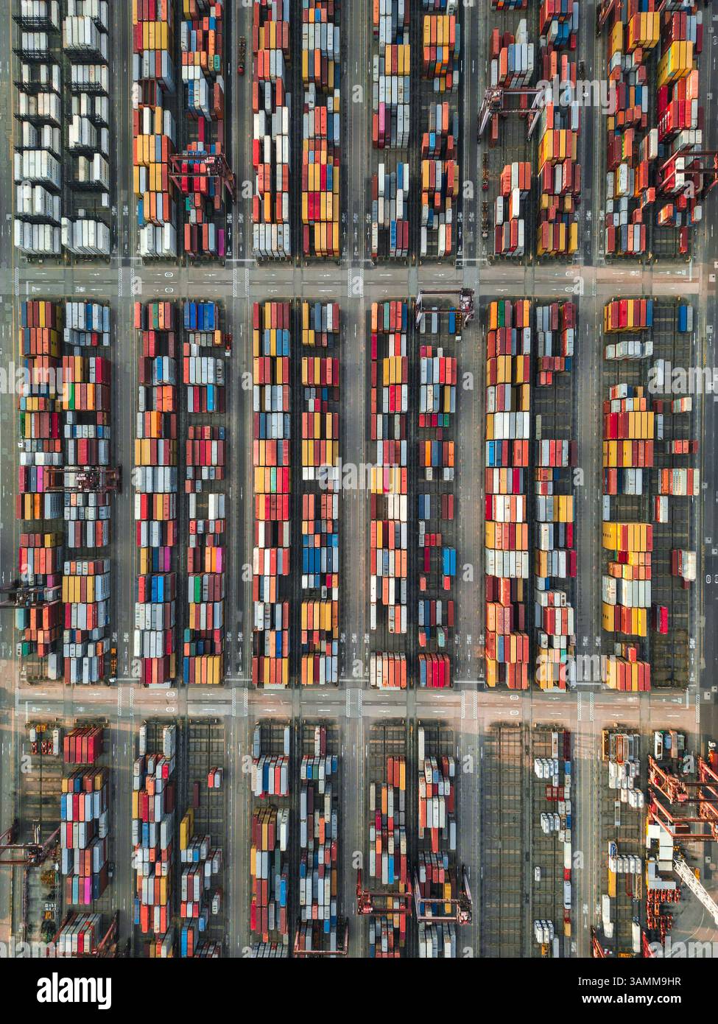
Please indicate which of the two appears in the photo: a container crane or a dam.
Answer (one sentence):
I can see a container crane in this picture.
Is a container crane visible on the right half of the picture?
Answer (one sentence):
Yes, a container crane can be seen on the right half of the picture.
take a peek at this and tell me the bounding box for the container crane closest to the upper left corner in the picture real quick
[167,152,237,198]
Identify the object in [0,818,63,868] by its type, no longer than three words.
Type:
container crane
